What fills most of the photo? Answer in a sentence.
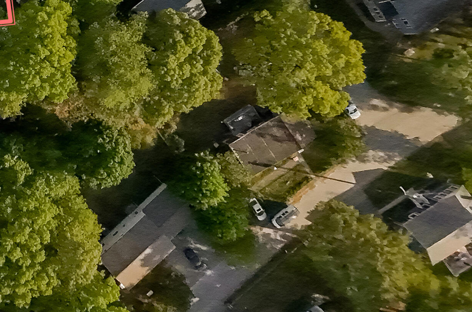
What you mostly see from above here is trees.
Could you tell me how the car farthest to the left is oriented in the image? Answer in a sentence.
In this picture, the car farthest to the left lies at an angle.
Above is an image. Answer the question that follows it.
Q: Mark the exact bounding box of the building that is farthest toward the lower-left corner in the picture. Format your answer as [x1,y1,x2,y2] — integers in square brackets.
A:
[99,196,189,289]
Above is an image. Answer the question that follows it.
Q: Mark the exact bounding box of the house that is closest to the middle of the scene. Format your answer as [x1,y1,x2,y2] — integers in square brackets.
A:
[222,105,317,174]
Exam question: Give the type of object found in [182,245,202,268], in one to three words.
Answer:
car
